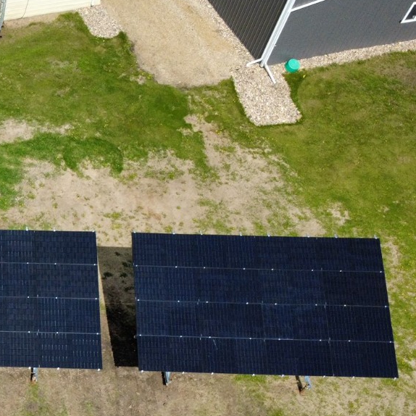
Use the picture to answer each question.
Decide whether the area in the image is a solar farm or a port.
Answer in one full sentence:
This looks like a solar farm.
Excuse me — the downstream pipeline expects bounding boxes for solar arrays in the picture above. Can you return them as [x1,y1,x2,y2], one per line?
[0,226,101,382]
[131,229,397,390]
